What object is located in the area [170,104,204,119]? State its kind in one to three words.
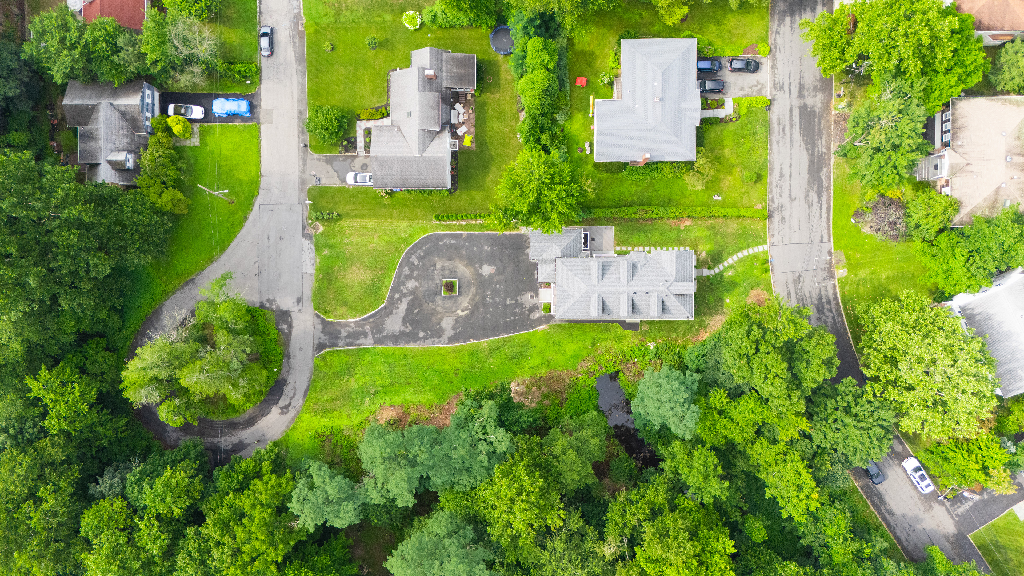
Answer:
car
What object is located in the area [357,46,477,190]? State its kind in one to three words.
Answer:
house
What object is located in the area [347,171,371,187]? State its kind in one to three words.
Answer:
car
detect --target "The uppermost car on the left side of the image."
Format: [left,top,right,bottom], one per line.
[259,26,275,59]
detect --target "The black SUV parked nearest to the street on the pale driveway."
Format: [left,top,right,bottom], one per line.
[727,57,759,73]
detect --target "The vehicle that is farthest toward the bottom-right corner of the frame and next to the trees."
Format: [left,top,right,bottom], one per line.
[902,456,935,494]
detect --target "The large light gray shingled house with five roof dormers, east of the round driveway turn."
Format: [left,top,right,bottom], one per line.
[530,228,696,323]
